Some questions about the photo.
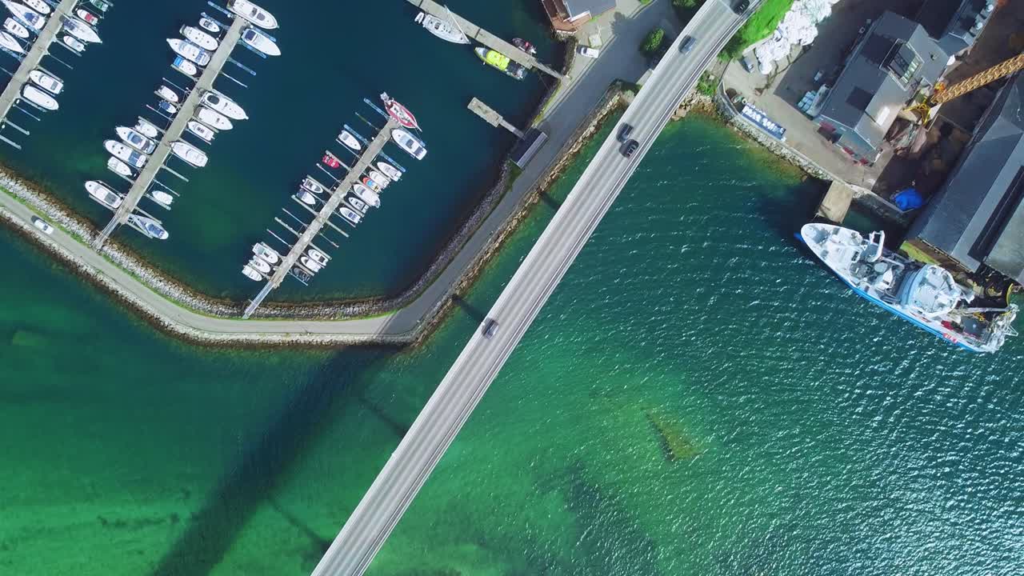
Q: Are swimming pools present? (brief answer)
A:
No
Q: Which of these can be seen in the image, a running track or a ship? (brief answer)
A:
ship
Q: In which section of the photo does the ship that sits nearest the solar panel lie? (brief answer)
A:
right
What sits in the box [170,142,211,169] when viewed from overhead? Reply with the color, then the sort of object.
white boat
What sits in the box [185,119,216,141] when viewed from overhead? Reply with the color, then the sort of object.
white boat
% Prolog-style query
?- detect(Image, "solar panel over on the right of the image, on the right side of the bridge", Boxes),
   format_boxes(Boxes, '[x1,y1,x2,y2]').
[845,86,874,110]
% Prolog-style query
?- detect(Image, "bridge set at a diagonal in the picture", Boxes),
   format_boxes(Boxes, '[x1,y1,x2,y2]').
[311,0,762,576]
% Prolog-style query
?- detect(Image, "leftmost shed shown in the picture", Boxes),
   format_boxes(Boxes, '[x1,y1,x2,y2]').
[503,121,551,171]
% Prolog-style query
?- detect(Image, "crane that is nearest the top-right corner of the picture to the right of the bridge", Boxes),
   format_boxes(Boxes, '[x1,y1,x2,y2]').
[900,50,1024,122]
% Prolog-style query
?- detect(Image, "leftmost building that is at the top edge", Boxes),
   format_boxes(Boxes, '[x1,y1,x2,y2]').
[543,0,616,33]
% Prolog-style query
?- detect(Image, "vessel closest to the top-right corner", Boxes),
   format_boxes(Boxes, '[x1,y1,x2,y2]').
[794,215,1018,356]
